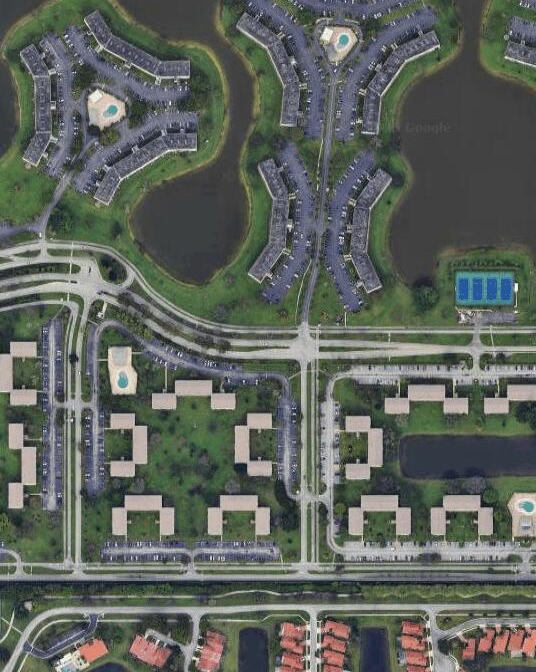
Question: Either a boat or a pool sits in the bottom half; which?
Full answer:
Visible in the bottom half is a pool.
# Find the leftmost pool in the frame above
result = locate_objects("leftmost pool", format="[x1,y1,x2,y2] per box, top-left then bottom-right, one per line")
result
[56,652,90,672]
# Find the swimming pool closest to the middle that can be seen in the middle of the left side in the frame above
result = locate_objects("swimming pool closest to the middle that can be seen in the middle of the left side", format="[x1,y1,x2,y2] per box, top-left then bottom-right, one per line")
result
[108,348,137,395]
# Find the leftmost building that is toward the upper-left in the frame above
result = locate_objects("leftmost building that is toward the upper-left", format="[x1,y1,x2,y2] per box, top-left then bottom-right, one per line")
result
[19,43,58,165]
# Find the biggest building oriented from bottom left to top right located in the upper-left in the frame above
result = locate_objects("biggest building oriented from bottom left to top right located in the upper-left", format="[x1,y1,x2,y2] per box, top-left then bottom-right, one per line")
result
[91,127,198,205]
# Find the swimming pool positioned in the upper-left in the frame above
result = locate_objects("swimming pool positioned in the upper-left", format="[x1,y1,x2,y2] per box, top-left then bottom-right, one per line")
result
[88,89,126,130]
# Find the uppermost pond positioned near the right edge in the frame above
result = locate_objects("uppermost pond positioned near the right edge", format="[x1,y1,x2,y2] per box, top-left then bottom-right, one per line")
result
[399,435,536,477]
